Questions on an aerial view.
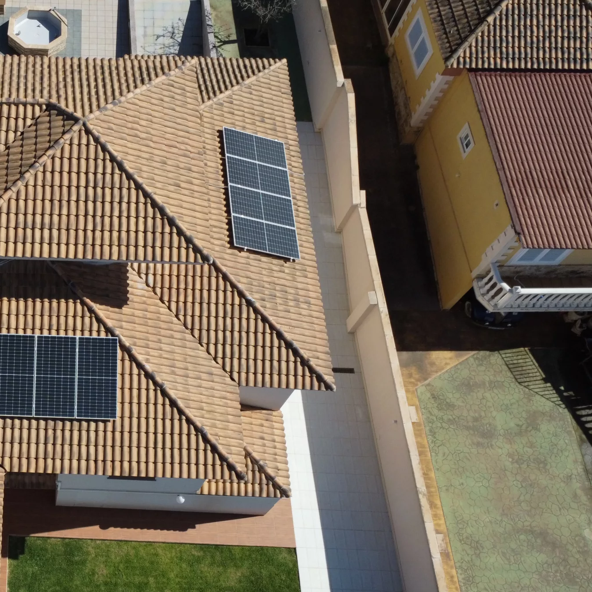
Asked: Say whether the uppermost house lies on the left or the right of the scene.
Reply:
right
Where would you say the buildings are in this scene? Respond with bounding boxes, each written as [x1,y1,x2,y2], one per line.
[0,49,340,592]
[370,0,592,318]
